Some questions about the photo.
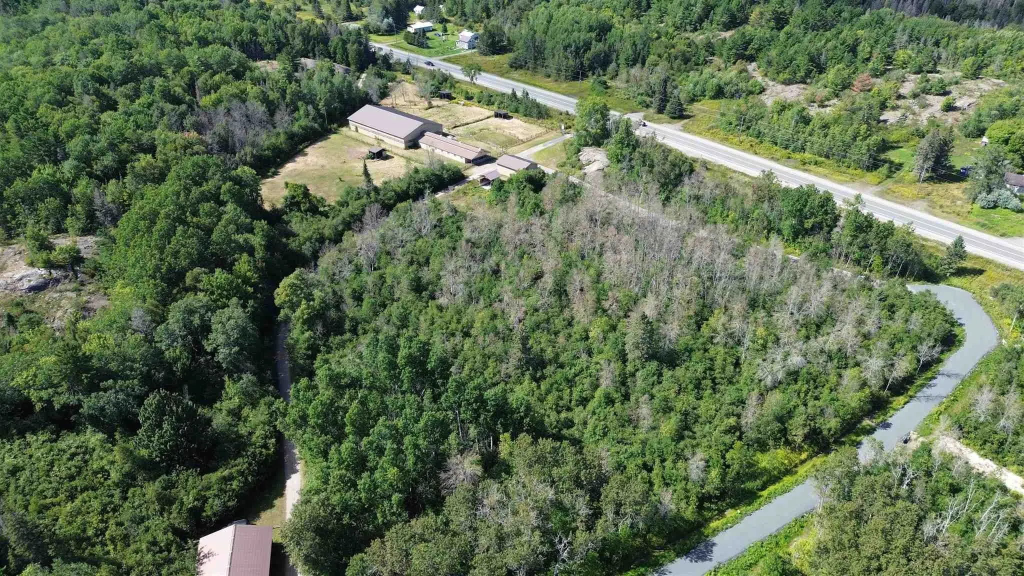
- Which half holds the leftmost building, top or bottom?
bottom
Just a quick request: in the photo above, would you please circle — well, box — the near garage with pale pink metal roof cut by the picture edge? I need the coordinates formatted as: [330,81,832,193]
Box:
[192,519,275,576]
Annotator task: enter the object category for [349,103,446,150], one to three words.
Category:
barn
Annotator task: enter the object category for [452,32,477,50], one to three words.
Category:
house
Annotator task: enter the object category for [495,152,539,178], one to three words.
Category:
building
